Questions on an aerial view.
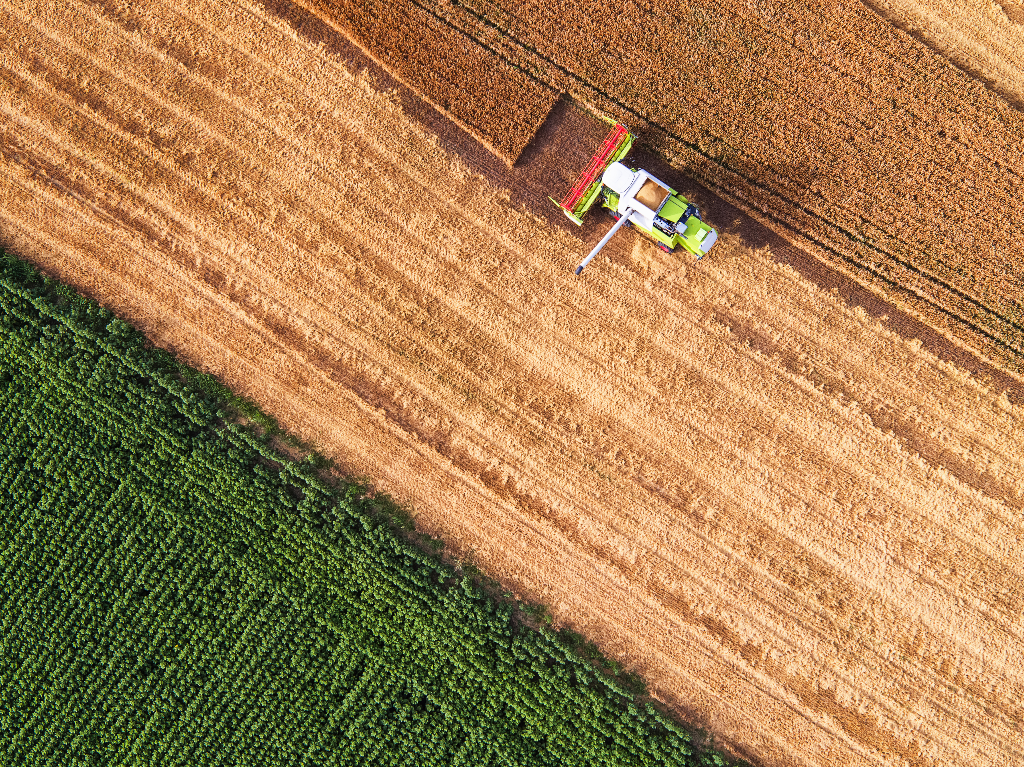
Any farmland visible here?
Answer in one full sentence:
Yes, there's farmland in this view.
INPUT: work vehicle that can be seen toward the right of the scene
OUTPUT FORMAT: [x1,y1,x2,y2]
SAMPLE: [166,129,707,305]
[547,117,715,269]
